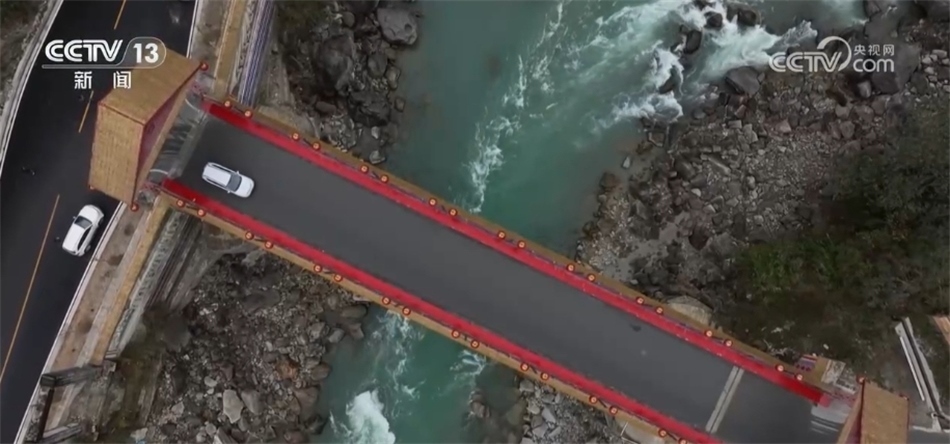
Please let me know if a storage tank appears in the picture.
No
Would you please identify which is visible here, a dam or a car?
car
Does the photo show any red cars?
No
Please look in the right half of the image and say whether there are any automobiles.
No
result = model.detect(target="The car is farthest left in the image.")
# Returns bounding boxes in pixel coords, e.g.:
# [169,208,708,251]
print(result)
[63,204,109,258]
